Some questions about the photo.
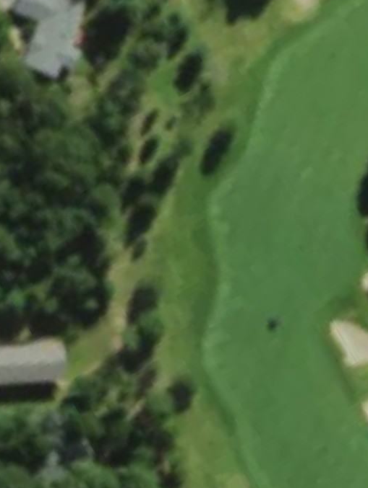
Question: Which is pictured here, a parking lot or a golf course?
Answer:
golf course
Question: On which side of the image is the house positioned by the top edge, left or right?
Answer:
left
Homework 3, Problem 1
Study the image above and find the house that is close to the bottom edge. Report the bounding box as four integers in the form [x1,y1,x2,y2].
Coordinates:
[36,422,91,476]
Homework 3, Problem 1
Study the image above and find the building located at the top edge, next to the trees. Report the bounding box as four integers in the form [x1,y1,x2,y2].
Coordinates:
[11,0,90,81]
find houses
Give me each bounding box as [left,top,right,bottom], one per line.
[36,422,91,476]
[11,0,90,81]
[0,338,68,385]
